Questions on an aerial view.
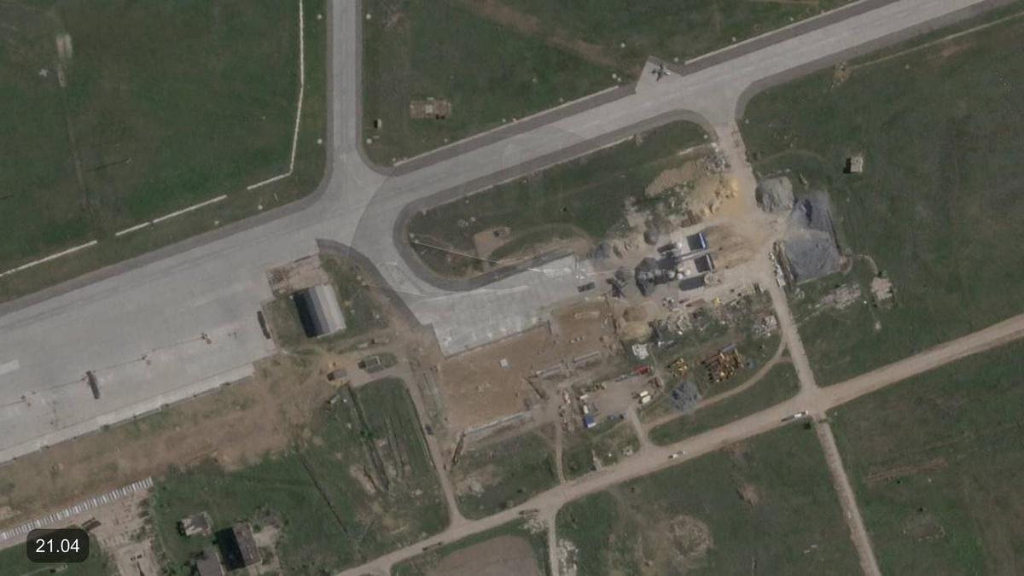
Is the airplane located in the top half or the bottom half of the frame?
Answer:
top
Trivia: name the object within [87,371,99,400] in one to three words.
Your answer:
vehicle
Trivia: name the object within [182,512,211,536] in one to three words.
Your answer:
shed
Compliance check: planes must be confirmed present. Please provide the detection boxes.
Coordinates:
[650,61,671,83]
